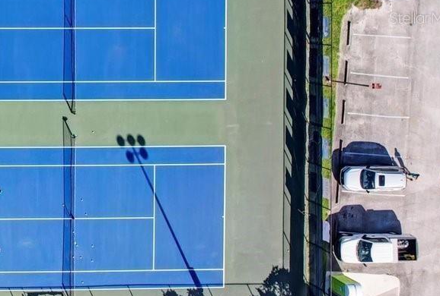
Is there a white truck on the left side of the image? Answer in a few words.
No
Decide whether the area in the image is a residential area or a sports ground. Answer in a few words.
sports ground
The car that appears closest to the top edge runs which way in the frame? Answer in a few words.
from left to right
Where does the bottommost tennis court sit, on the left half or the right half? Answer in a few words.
left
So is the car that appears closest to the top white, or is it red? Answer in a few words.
white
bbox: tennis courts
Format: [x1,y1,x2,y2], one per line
[0,145,227,291]
[0,0,227,101]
